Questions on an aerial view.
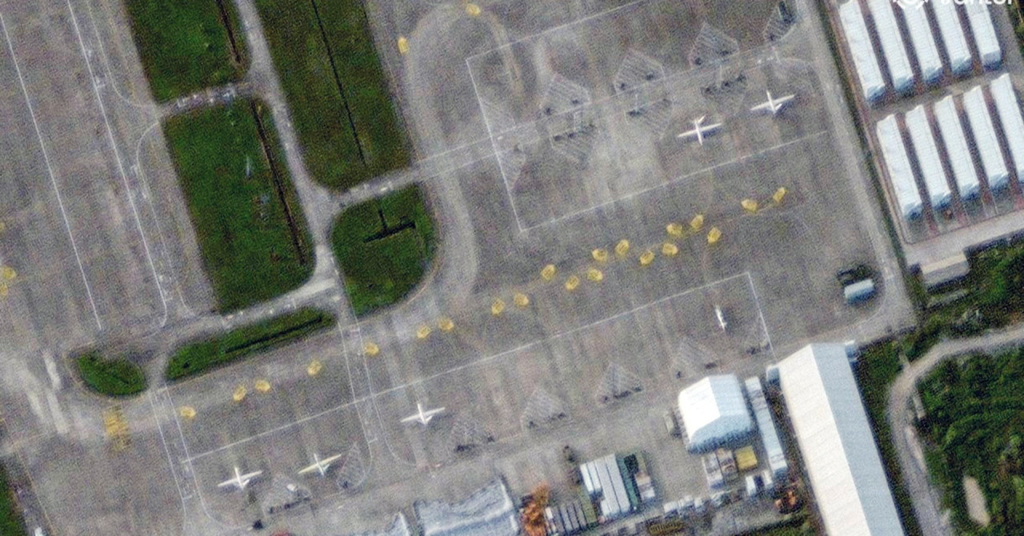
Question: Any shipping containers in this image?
Yes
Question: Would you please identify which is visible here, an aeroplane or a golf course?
aeroplane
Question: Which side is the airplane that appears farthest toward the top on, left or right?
right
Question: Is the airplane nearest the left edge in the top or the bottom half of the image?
bottom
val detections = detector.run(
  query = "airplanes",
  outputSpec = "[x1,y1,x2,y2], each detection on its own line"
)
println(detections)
[400,403,444,425]
[217,466,261,490]
[296,454,342,477]
[677,117,721,145]
[716,307,731,331]
[750,90,793,113]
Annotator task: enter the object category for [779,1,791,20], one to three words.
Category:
vehicle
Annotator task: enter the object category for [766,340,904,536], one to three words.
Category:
hangar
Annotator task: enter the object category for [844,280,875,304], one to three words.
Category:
shed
